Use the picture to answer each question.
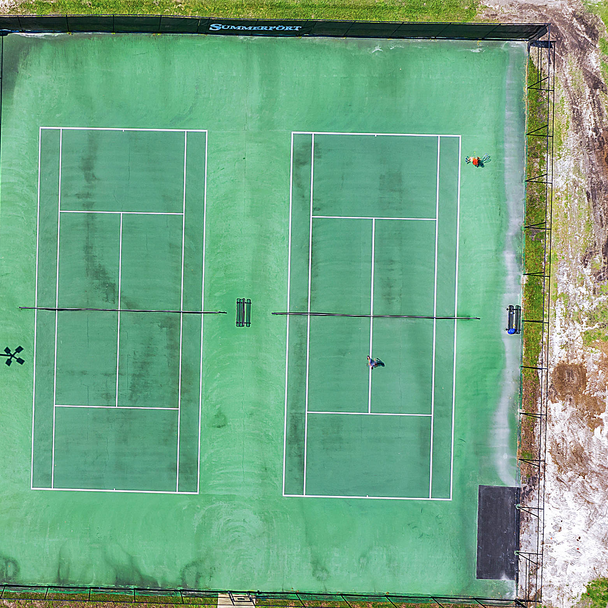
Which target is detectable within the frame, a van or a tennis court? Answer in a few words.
tennis court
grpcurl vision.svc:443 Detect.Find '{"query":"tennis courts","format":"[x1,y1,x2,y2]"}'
[283,131,461,501]
[31,127,208,494]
